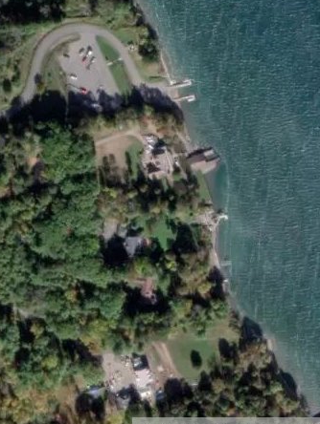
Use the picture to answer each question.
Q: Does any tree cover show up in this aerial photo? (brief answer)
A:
Yes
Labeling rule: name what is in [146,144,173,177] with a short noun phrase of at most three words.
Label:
house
